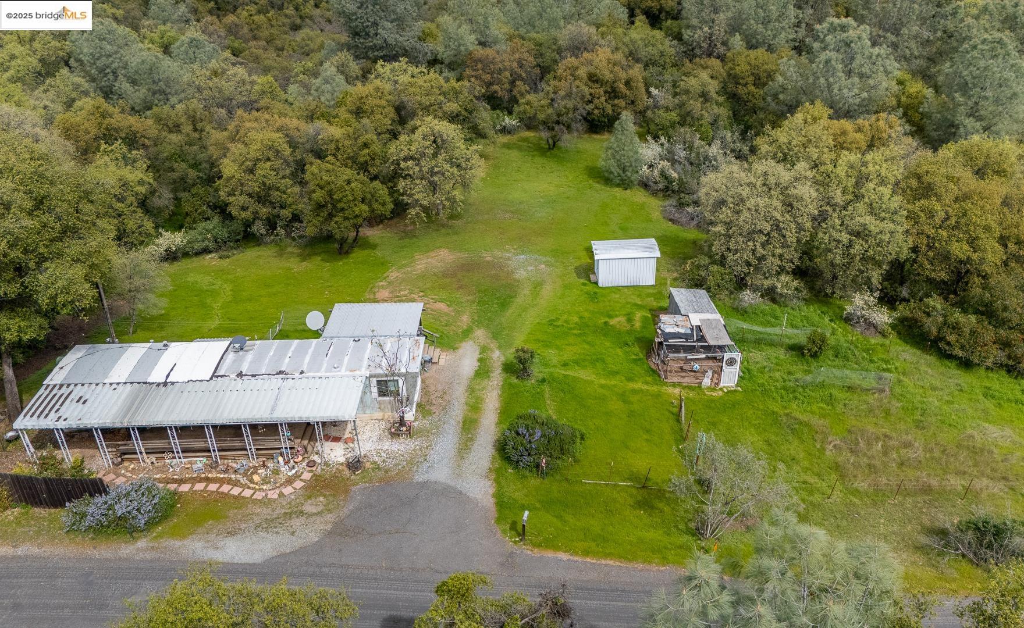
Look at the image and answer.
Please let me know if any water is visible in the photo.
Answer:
No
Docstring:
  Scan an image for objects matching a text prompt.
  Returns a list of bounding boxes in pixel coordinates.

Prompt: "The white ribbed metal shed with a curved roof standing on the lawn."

[592,236,662,285]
